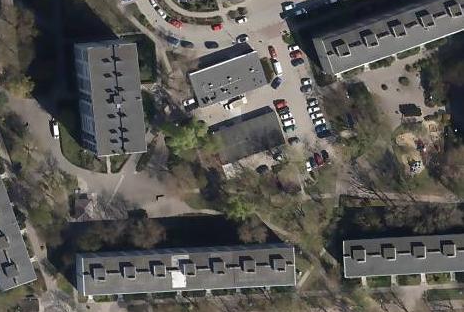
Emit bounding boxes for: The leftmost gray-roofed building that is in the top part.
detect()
[76,40,147,158]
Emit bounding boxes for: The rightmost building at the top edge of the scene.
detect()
[313,0,464,79]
